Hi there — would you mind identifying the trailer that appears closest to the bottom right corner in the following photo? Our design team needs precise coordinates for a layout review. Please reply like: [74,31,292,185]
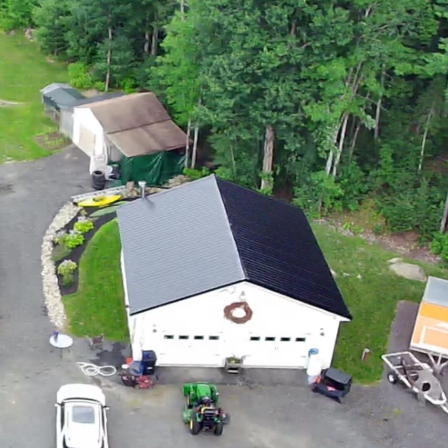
[376,357,448,417]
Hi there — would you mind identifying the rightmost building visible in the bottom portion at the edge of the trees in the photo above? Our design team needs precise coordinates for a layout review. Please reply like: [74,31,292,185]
[114,171,355,368]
